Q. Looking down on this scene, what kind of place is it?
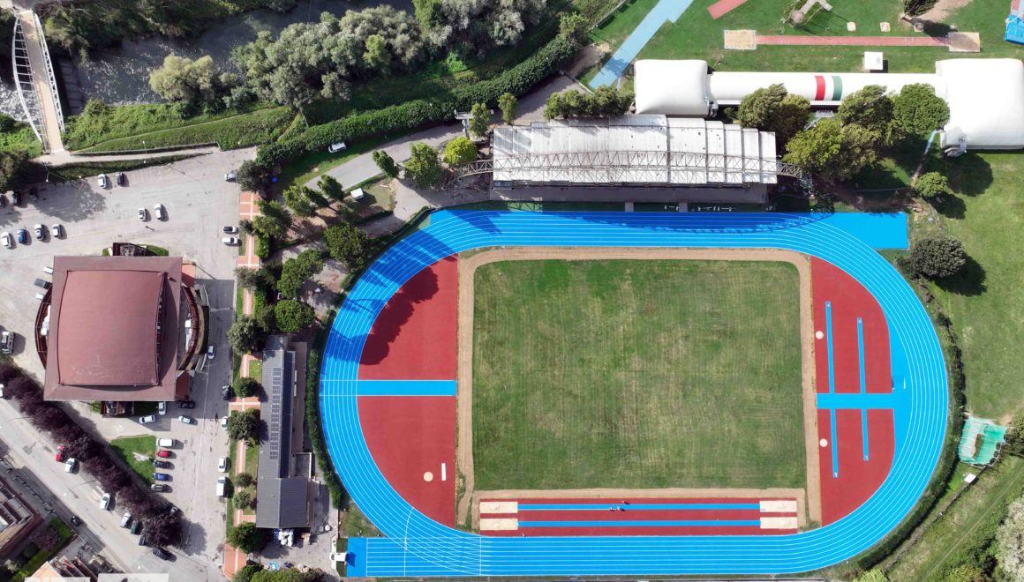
sports ground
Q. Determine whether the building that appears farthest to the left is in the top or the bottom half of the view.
bottom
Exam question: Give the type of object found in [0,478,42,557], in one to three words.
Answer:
building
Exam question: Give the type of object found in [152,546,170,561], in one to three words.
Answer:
car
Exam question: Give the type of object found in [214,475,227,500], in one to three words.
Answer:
vehicle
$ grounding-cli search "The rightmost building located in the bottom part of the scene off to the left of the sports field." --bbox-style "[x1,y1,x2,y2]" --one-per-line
[256,336,315,528]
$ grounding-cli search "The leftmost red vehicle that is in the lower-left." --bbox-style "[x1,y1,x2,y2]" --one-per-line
[54,445,66,462]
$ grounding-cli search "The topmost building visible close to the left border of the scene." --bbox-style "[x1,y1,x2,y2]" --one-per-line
[34,243,212,415]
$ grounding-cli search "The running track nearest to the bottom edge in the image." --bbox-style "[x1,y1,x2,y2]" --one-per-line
[319,209,951,579]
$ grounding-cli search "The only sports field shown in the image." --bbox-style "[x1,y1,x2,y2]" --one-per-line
[473,259,806,491]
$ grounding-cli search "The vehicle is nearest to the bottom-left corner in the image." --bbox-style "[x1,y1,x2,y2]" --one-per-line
[69,515,83,528]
